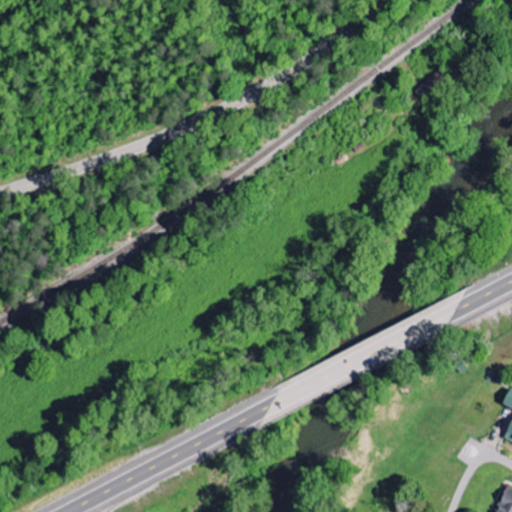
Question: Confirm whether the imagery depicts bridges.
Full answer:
Yes, a bridge is visible in the scene.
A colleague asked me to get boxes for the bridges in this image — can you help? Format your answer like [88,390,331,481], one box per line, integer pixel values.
[256,283,474,431]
